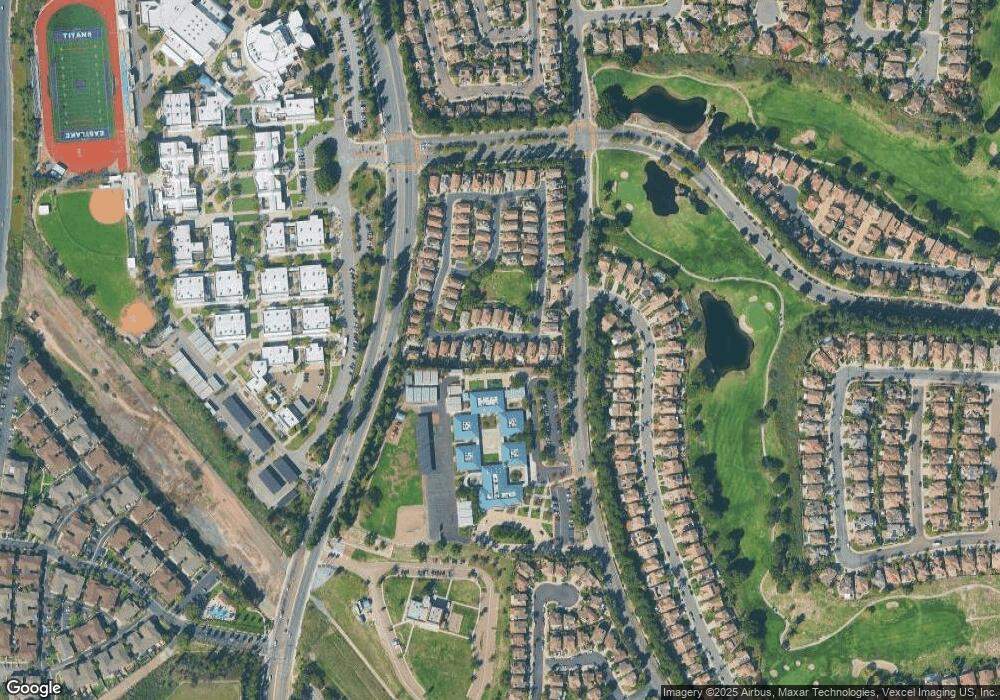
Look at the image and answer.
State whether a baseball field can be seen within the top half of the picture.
Yes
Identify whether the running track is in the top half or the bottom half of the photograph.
top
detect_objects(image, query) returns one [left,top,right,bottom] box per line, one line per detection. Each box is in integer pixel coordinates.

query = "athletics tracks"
[36,0,128,173]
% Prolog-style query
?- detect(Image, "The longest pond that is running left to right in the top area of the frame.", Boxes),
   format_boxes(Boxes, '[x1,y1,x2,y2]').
[604,86,706,131]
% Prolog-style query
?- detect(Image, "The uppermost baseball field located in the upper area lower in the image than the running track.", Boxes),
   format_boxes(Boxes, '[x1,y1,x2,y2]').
[36,188,129,263]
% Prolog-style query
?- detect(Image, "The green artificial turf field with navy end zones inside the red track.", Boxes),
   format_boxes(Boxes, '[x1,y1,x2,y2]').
[48,3,115,142]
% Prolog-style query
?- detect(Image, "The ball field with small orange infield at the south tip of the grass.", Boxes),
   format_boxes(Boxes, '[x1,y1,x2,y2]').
[62,261,155,335]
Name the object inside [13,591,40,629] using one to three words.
building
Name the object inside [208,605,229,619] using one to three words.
swimming pool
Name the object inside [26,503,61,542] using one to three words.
building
